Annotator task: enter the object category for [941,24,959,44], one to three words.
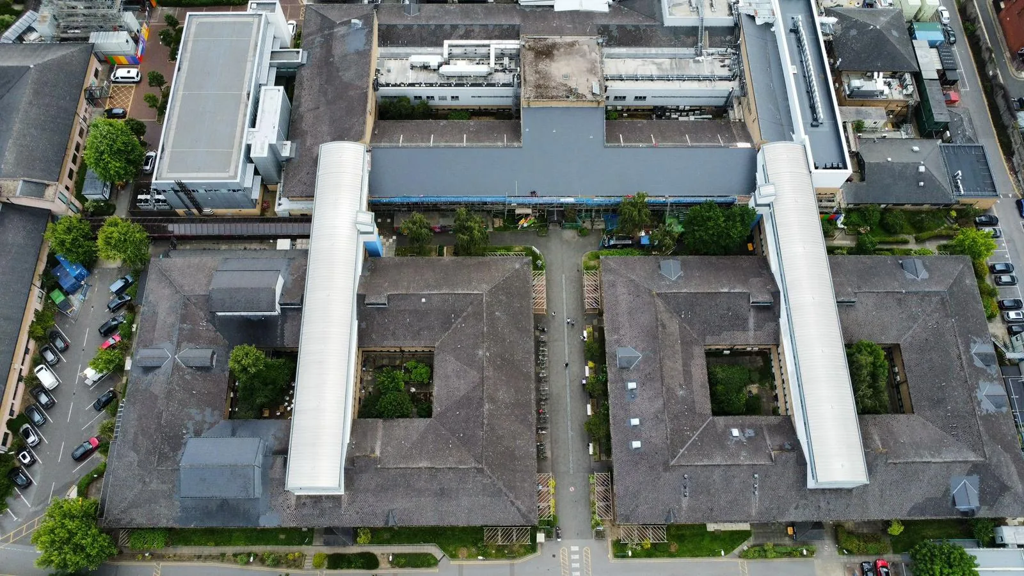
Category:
car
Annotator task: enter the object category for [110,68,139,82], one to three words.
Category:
vehicle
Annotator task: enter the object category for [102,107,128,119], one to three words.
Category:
vehicle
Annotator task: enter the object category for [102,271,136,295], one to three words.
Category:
car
